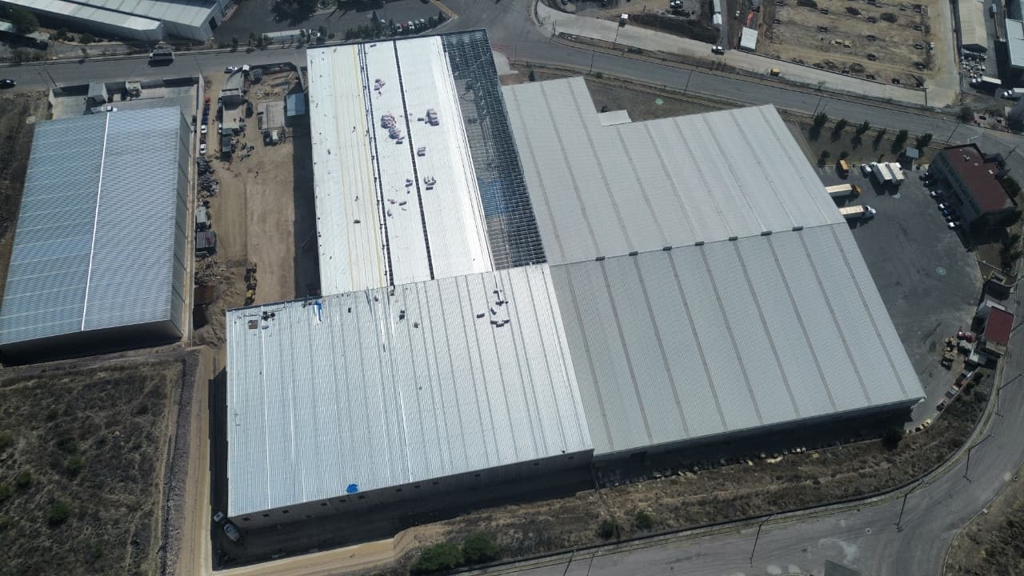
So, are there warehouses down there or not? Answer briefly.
Yes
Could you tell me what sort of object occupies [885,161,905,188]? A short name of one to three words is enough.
vehicle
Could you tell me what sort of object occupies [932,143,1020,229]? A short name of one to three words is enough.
building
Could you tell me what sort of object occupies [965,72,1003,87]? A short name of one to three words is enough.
vehicle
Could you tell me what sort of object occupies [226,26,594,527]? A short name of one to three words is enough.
warehouse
